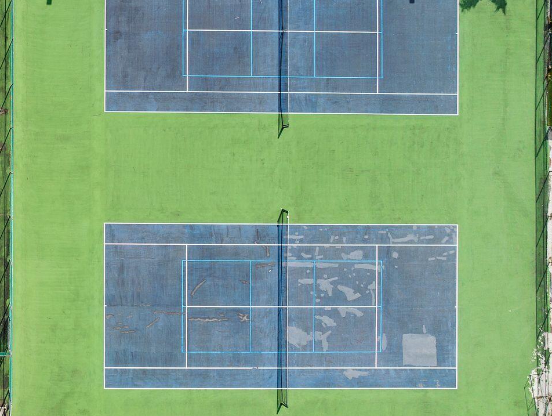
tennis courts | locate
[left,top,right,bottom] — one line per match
[104,0,458,115]
[104,223,458,389]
